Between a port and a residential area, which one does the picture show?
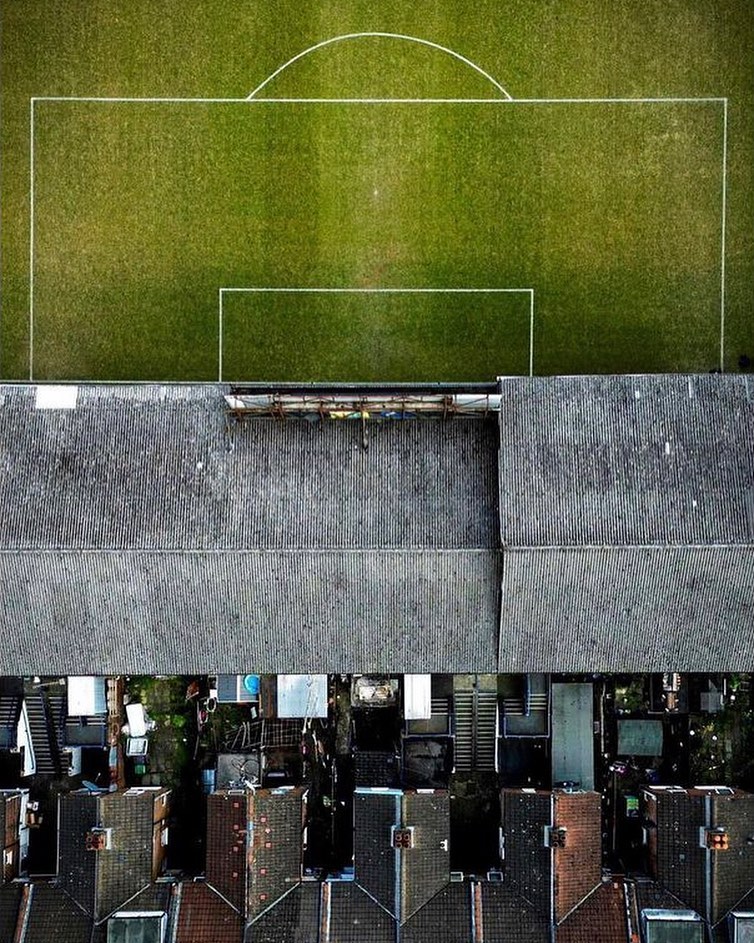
residential area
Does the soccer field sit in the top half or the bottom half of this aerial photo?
top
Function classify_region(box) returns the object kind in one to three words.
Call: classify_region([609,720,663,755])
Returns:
shed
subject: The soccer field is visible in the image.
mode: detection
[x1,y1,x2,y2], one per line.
[0,0,754,390]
